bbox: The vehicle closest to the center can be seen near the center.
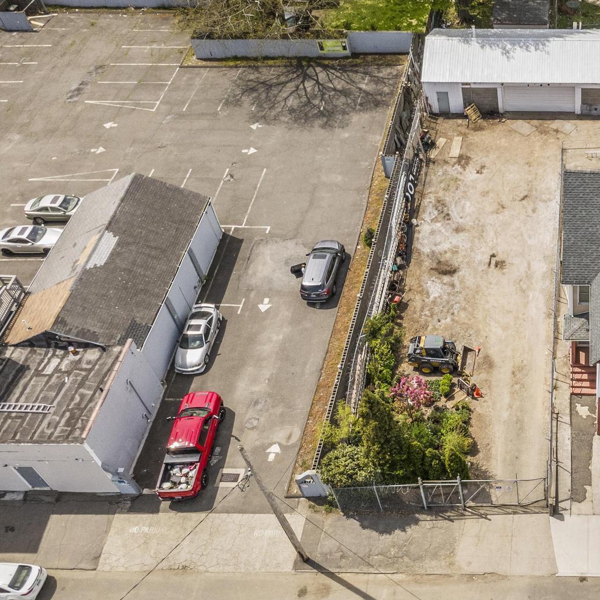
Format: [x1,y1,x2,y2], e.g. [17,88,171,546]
[287,238,345,301]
